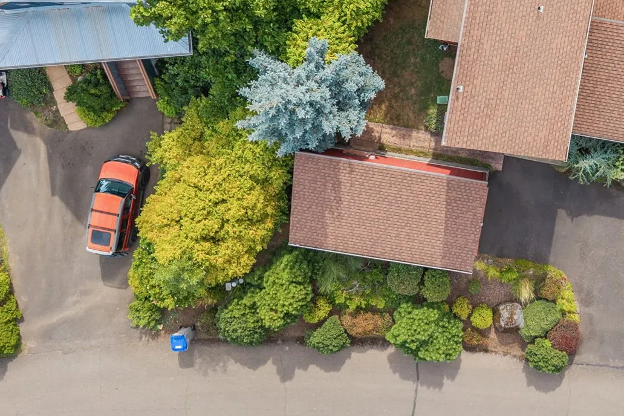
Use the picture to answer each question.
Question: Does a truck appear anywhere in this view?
No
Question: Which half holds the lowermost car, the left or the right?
left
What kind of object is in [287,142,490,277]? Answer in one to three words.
building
